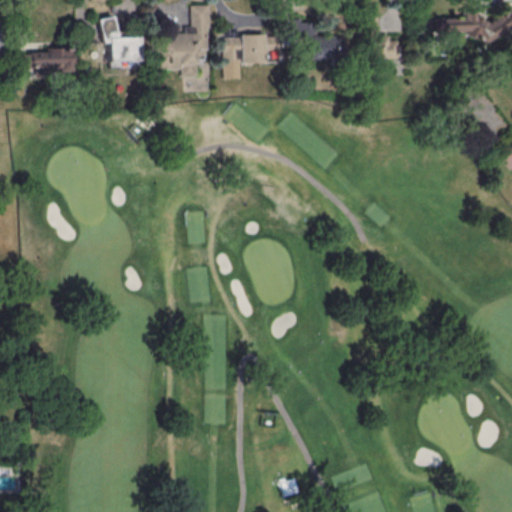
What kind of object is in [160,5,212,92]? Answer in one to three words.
house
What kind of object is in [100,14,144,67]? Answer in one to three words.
house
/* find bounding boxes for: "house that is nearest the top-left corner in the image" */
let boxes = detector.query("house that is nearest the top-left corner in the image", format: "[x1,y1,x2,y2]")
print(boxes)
[30,48,78,74]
